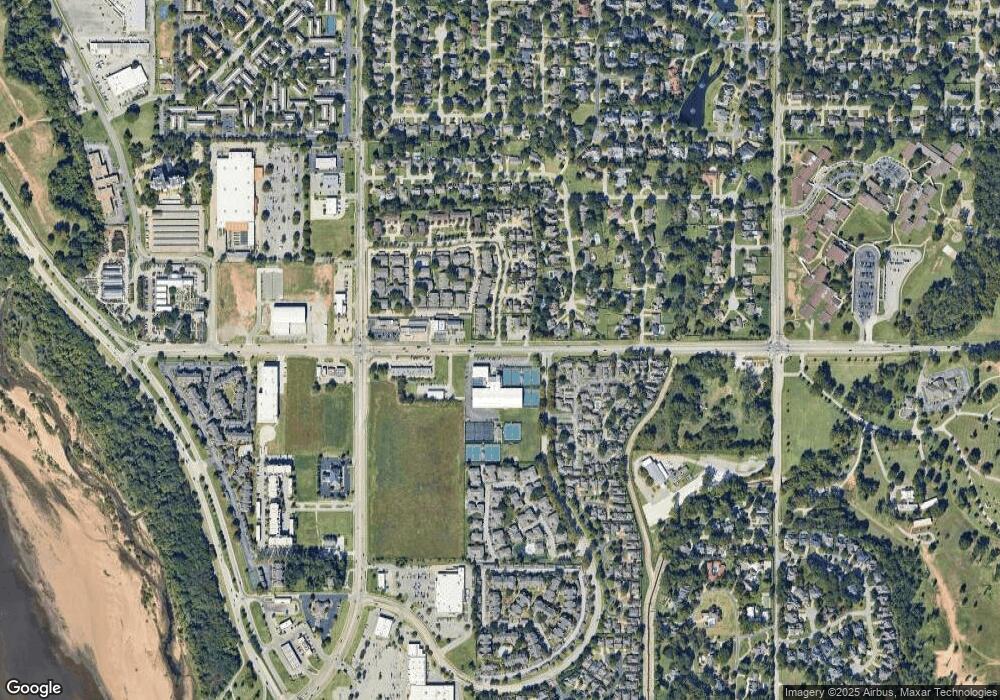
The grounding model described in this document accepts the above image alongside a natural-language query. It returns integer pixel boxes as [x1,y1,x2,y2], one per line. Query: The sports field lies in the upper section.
[840,206,891,241]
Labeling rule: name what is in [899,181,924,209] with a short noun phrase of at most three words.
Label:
building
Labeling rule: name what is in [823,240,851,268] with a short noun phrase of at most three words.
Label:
building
